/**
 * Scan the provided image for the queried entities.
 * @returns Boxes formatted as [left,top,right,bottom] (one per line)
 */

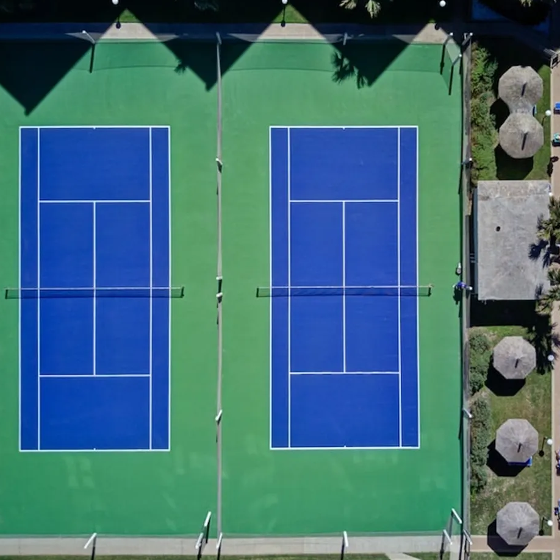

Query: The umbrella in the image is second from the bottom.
[498,421,537,461]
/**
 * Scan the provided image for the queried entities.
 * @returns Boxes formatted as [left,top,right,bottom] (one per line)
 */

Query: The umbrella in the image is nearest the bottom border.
[498,504,537,545]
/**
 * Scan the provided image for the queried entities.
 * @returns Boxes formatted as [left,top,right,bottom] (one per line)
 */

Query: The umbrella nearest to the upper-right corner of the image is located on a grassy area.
[501,70,541,121]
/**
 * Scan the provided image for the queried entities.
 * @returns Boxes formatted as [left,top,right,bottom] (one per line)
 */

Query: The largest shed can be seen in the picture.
[472,181,550,300]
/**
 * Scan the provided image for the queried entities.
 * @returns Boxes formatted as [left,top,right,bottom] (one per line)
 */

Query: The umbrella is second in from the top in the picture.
[501,116,542,154]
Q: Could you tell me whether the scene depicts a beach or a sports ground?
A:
sports ground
